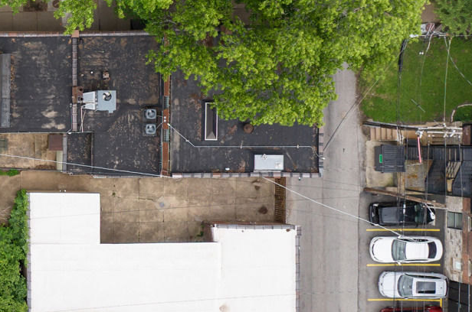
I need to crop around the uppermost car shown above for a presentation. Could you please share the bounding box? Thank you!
[363,198,432,232]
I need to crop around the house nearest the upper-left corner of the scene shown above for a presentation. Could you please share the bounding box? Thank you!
[0,35,72,135]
